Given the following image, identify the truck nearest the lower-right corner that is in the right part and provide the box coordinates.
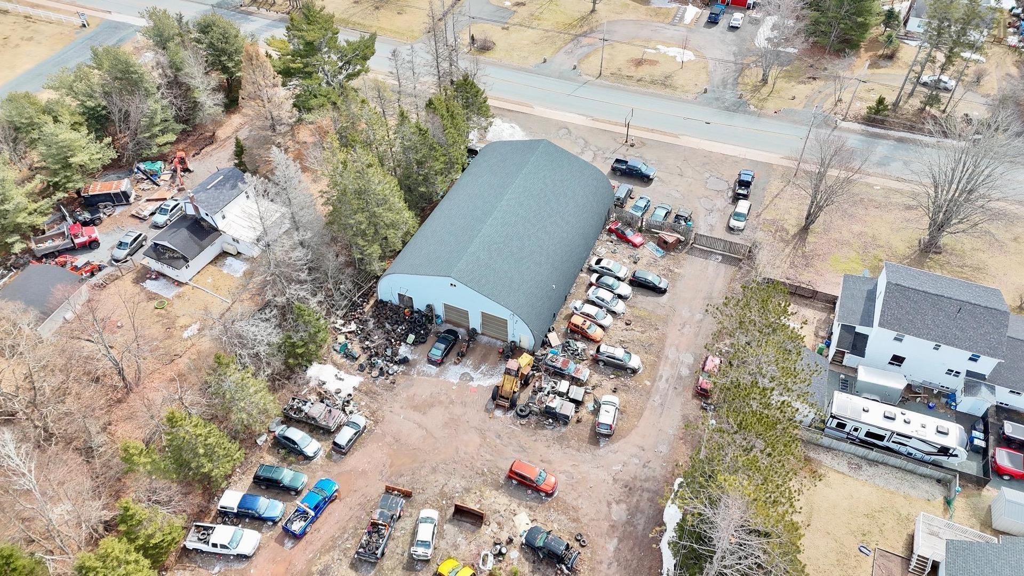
[992,450,1024,479]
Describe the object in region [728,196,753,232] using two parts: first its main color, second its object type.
white car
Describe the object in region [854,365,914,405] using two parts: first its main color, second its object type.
white trailer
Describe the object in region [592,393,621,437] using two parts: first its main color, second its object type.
white car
